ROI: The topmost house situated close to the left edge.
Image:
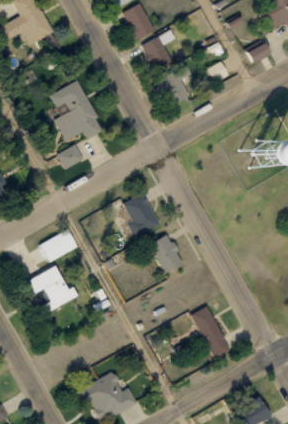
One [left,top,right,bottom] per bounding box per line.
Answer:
[6,0,52,46]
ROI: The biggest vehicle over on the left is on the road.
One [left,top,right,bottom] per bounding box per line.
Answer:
[68,176,88,190]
